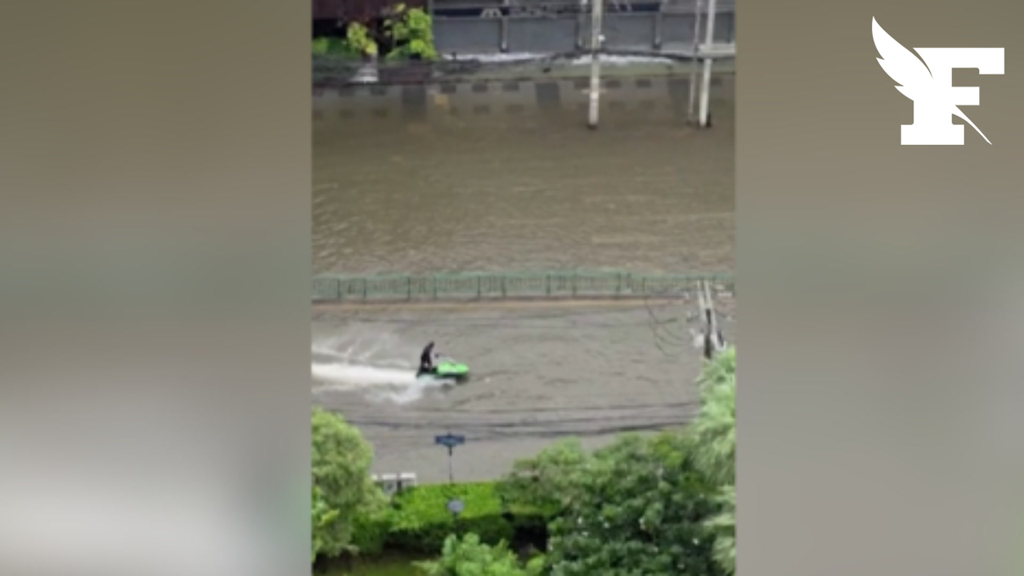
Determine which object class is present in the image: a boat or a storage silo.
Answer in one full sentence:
The image shows a boat.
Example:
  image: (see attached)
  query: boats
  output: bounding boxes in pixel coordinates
[417,350,471,379]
